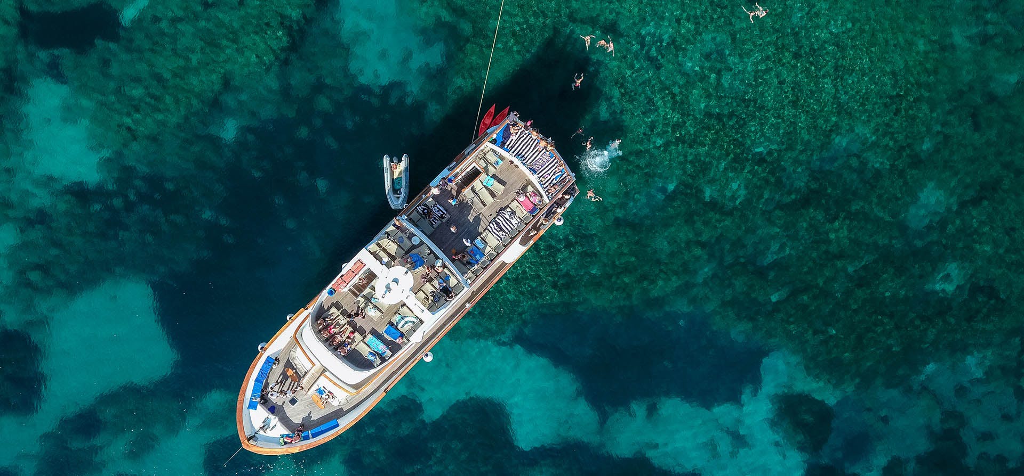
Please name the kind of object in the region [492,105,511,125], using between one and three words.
boat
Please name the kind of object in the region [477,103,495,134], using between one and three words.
boat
